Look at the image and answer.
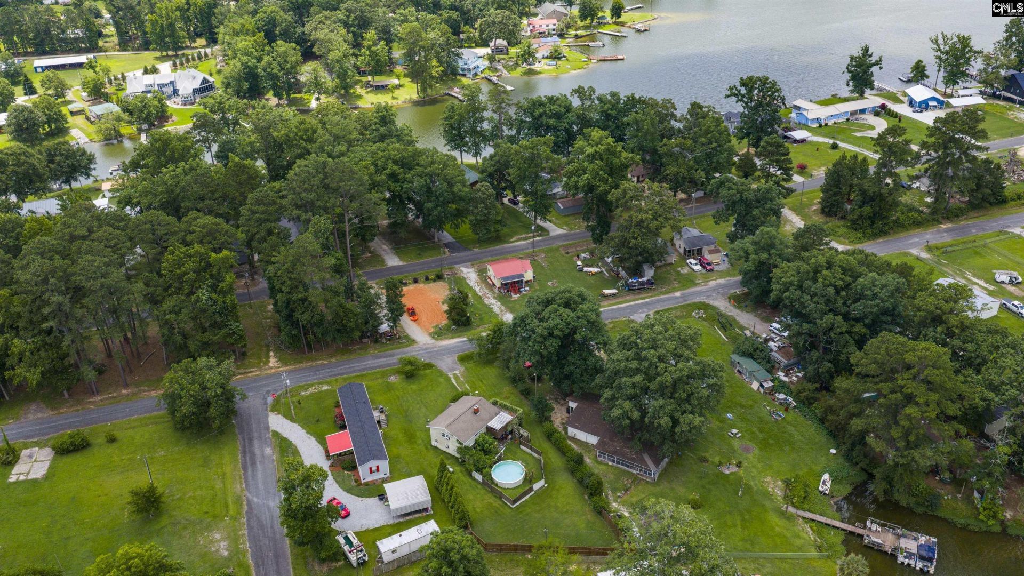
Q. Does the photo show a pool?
Yes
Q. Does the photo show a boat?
Yes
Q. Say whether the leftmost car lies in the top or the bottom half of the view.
bottom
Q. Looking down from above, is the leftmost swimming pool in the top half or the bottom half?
bottom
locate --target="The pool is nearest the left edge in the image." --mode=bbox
[491,459,526,490]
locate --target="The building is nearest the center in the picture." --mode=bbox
[487,257,533,298]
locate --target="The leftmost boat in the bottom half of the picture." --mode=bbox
[335,526,370,567]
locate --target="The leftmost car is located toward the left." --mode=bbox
[325,494,350,516]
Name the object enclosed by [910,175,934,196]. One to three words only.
shed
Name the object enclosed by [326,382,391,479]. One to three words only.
house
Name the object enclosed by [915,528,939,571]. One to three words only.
boat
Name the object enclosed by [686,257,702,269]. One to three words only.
vehicle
